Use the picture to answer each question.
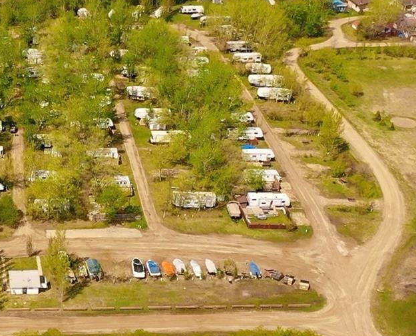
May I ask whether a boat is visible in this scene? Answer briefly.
Yes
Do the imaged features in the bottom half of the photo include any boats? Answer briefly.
Yes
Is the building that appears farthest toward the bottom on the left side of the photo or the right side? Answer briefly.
left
